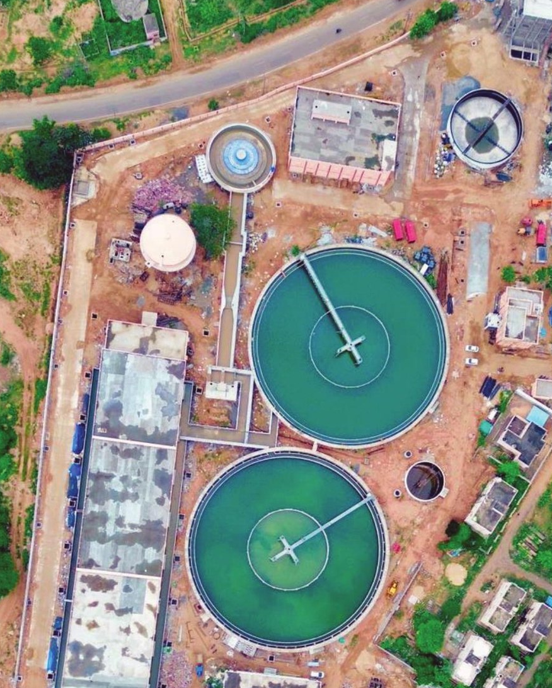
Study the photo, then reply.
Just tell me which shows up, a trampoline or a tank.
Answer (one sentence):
Looking from above, you can make out a tank.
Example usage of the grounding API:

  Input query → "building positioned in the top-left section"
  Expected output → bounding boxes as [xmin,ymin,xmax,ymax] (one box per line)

[143,13,159,41]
